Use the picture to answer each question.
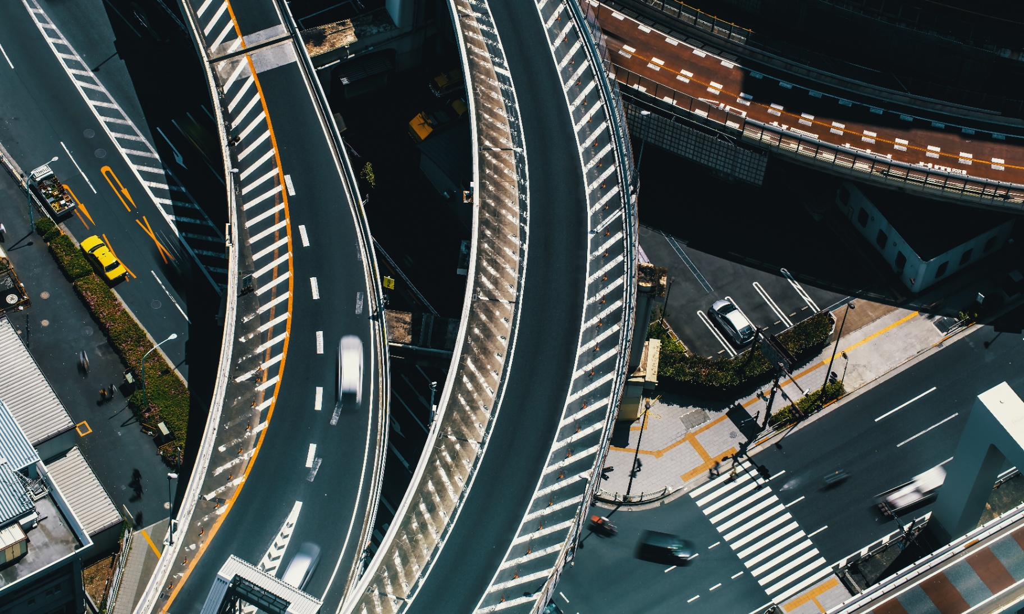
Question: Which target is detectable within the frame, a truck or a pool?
truck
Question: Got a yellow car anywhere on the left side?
Yes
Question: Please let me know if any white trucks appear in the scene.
Yes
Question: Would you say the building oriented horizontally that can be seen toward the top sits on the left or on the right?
right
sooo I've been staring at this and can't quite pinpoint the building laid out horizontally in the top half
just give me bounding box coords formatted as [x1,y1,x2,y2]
[836,180,1023,289]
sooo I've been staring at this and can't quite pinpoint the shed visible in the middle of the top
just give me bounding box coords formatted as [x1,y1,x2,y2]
[416,118,471,213]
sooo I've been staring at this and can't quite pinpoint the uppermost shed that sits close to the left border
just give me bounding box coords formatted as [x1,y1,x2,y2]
[0,314,77,462]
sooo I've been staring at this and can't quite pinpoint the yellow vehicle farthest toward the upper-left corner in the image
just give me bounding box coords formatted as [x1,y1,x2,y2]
[82,235,126,282]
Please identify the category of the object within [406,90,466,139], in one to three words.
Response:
truck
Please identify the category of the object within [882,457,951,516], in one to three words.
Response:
truck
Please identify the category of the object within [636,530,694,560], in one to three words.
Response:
car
